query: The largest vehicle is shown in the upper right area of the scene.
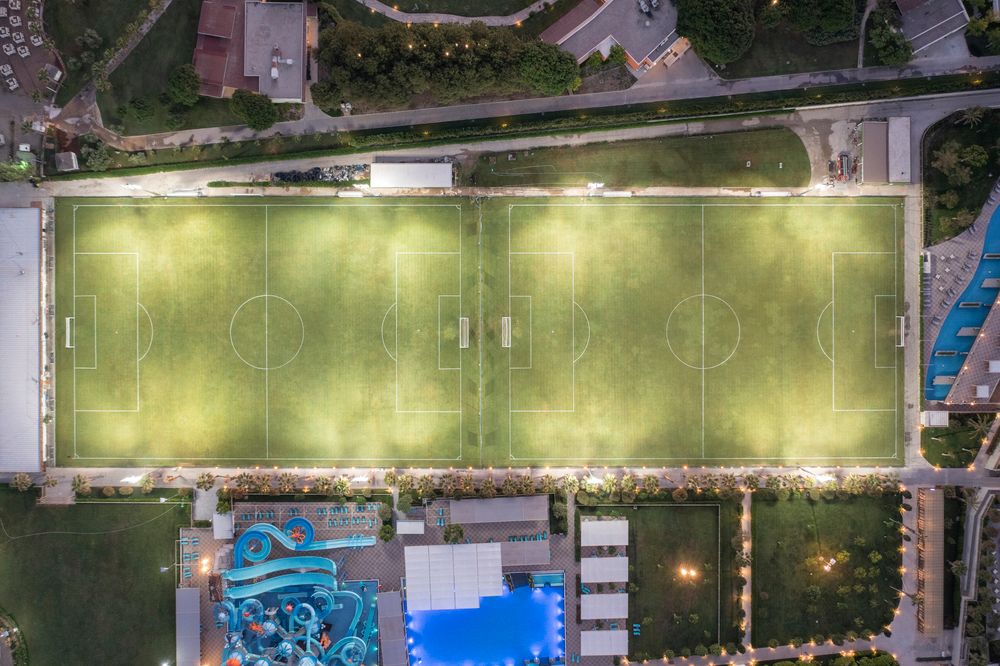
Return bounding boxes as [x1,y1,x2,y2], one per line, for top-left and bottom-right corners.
[838,156,852,182]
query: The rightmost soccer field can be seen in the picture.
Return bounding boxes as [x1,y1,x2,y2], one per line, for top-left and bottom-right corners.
[510,204,899,460]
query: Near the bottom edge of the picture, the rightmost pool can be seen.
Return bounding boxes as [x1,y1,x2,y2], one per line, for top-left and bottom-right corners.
[401,568,566,666]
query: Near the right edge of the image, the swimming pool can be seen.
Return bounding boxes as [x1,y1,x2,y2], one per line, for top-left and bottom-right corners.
[926,203,1000,403]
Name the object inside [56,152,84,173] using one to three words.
shed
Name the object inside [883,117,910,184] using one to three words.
building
